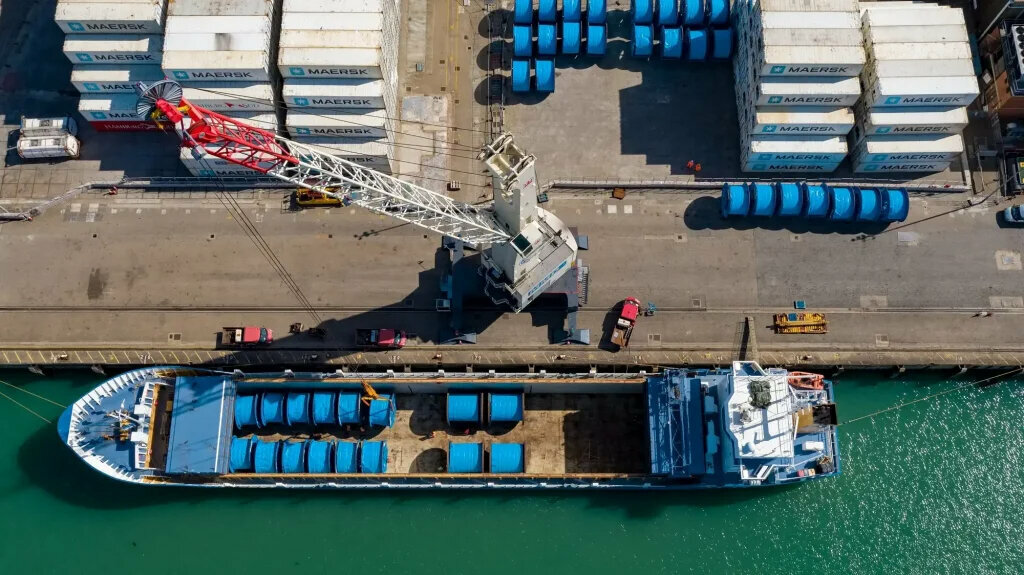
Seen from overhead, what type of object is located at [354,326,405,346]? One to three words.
vehicle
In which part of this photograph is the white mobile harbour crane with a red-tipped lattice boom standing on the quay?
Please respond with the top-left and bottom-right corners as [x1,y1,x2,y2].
[130,69,591,387]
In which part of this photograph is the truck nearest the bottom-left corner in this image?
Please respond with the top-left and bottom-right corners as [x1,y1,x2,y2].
[218,323,270,344]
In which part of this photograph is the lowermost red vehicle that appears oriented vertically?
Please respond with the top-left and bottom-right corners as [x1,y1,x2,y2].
[615,298,639,347]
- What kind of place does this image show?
port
